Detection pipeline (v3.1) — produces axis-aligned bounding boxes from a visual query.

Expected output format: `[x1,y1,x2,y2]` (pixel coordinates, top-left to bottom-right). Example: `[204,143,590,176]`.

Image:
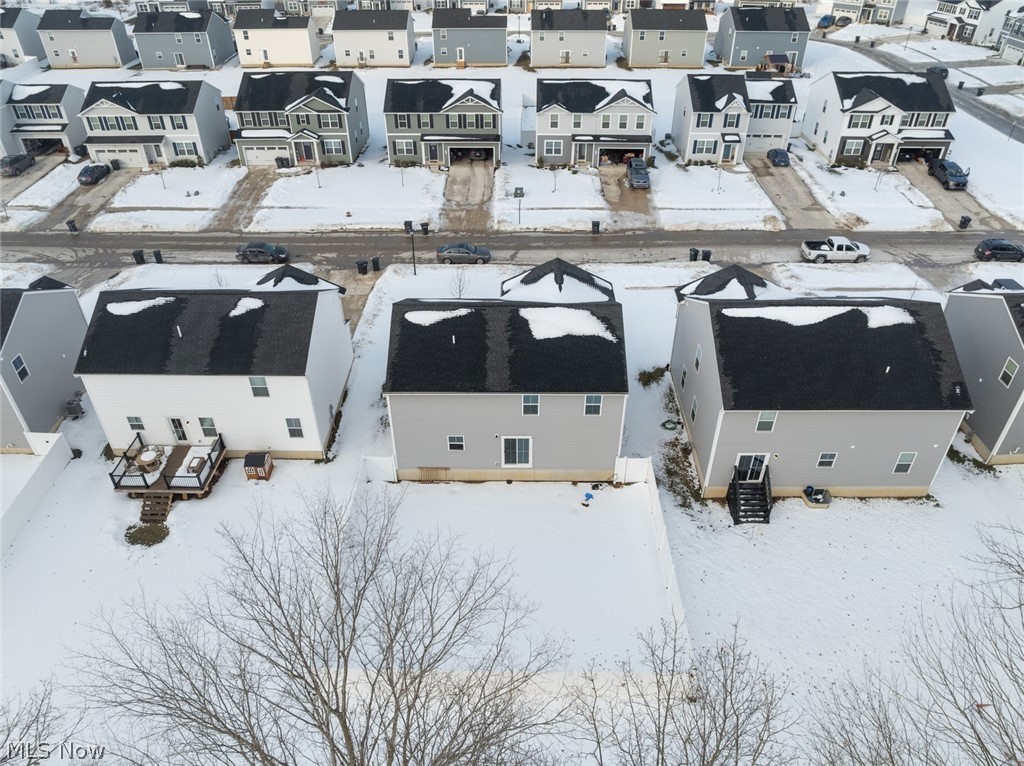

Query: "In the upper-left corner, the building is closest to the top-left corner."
[0,4,46,63]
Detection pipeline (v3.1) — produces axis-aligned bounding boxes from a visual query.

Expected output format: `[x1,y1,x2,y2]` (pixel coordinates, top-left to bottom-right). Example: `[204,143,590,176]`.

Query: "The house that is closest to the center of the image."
[383,256,630,482]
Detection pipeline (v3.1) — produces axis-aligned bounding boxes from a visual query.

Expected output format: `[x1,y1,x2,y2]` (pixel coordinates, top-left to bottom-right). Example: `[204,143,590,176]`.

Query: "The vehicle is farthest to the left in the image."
[0,155,25,179]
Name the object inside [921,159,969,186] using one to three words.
vehicle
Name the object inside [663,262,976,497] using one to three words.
house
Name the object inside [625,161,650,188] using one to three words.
vehicle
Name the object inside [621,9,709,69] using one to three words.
house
